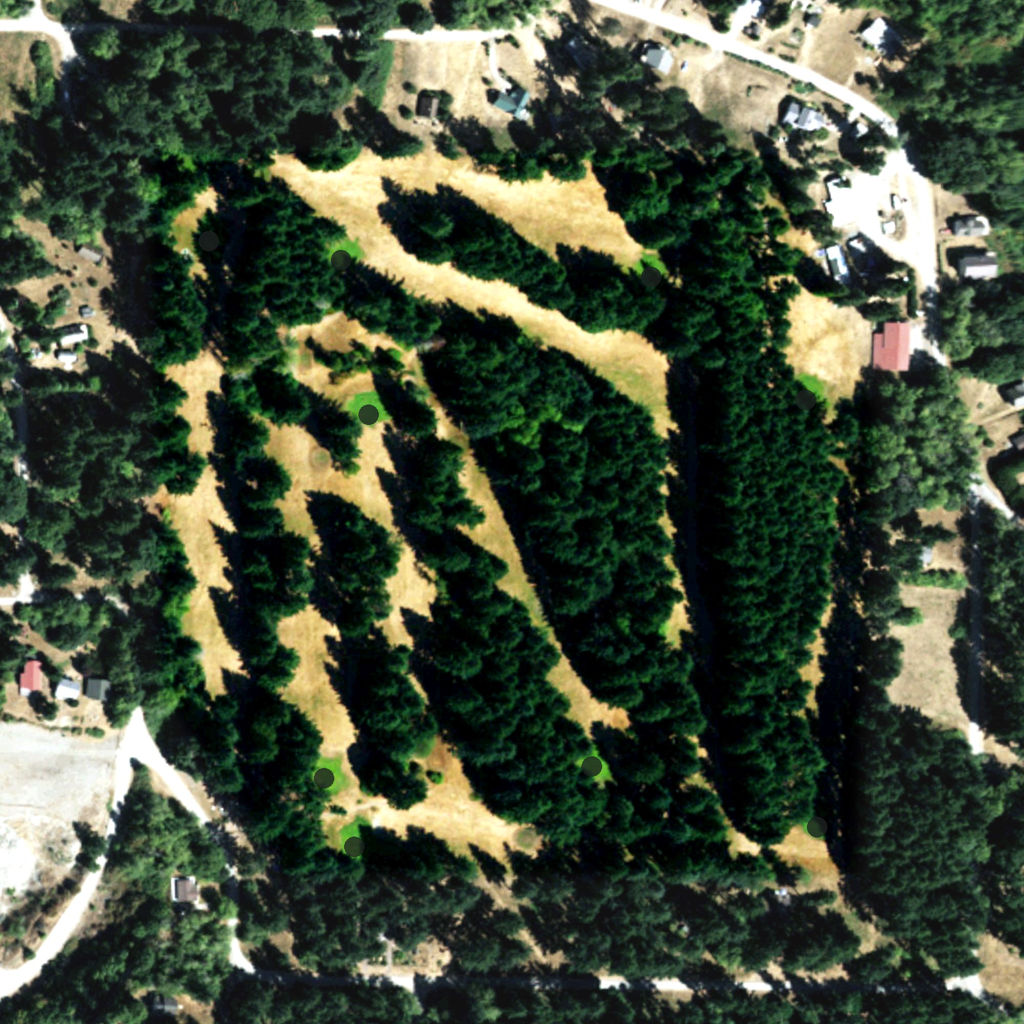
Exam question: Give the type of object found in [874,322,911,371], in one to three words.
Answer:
building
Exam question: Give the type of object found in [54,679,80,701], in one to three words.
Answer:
house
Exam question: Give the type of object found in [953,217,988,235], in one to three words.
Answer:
house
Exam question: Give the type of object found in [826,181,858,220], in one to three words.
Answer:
building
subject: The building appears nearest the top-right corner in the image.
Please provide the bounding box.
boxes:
[861,13,903,55]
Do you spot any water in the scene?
No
